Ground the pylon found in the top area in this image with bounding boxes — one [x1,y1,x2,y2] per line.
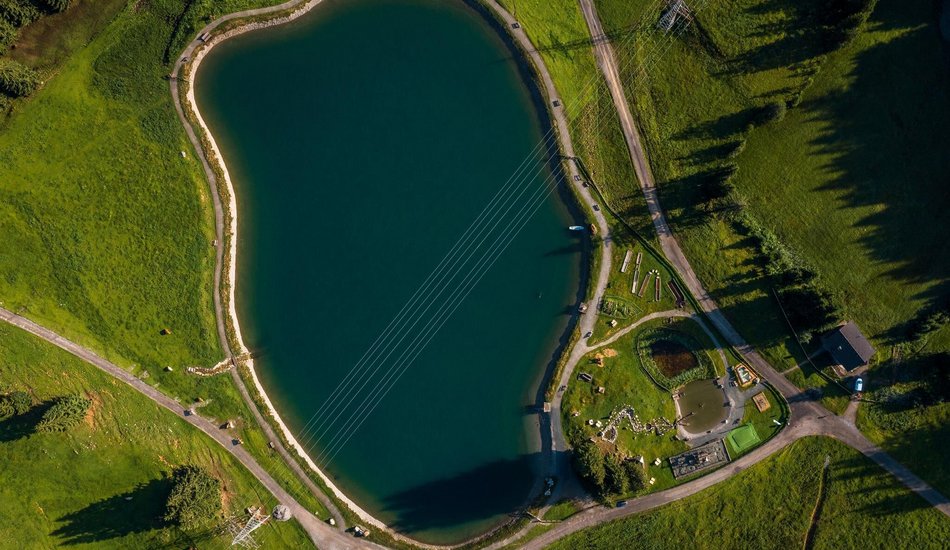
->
[657,0,700,36]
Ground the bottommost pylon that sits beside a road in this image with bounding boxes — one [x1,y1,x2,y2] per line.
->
[228,502,274,548]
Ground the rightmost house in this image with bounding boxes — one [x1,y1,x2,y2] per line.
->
[821,320,875,373]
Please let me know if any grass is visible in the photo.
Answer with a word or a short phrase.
Yes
